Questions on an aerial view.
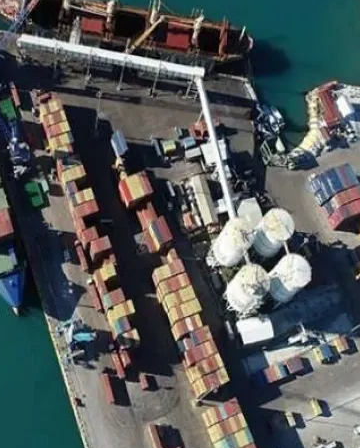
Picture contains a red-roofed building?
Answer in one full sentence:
Yes, there's a red-roofed building down there.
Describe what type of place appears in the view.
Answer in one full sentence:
The area seen from above is a port.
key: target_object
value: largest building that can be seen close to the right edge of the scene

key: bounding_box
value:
[258,279,358,342]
